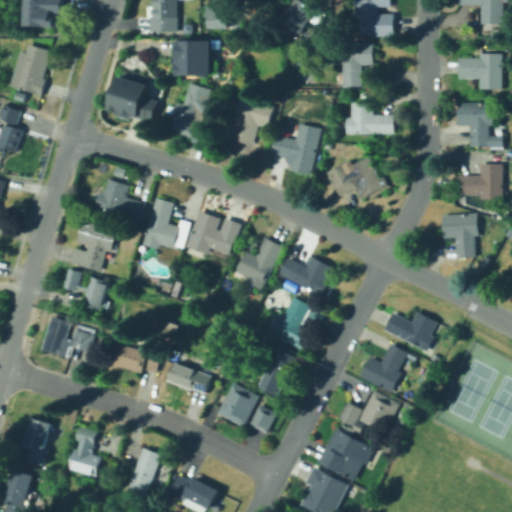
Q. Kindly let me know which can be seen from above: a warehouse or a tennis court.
tennis court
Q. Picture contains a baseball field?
No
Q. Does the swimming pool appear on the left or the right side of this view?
left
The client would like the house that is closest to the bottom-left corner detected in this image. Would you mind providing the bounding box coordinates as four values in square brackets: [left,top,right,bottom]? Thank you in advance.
[2,472,32,512]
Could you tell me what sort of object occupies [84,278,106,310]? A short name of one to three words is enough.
house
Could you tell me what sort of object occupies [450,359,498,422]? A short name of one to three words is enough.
tennis court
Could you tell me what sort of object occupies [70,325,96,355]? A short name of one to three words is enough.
building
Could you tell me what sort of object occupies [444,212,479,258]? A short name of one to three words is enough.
house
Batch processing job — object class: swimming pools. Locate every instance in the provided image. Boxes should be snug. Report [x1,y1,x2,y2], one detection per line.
[142,258,170,278]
